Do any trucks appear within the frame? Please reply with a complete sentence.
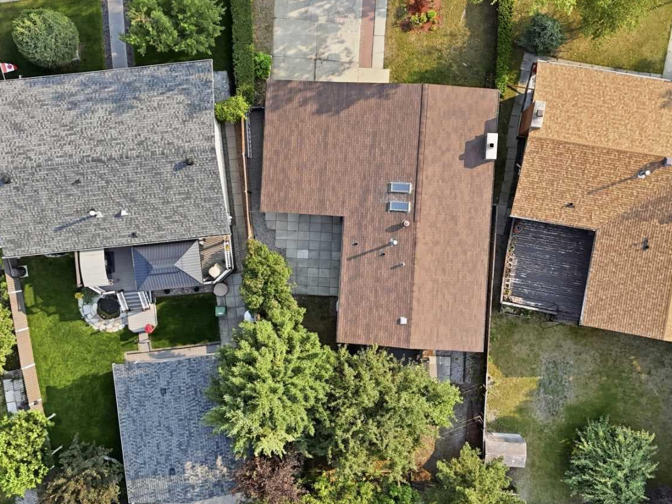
No, I can't see a single truck in this photo.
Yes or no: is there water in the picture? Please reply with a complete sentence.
No, the scene doesn't show any water.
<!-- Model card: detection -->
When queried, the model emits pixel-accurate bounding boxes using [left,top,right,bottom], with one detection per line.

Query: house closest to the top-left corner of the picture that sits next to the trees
[0,59,233,258]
